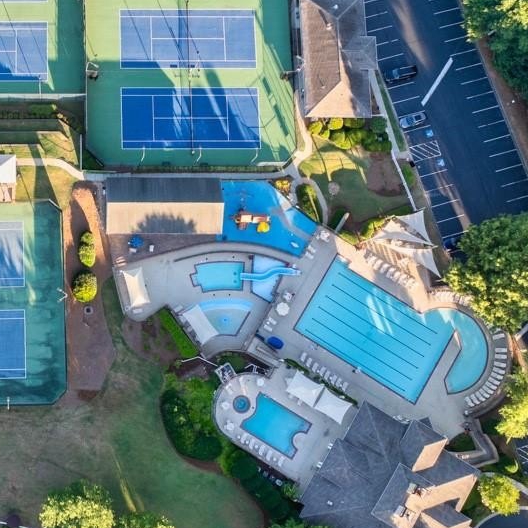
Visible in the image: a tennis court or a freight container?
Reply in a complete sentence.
This aerial view contains a tennis court.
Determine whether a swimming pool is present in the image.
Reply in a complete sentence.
Yes, the photo shows a swimming pool.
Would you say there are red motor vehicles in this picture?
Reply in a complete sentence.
No, the frame has no red motor vehicle in it.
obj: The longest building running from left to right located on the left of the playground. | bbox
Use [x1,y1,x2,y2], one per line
[106,177,226,236]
